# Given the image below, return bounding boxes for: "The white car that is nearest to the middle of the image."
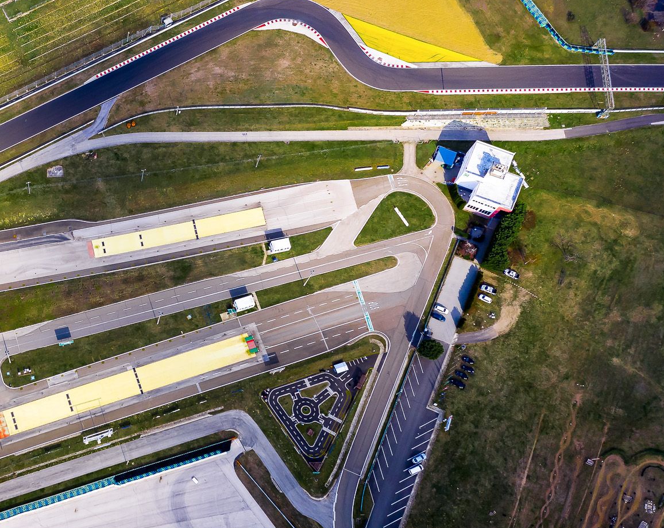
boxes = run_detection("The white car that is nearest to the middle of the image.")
[433,303,449,316]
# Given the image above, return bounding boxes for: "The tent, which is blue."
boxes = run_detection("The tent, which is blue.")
[432,146,457,169]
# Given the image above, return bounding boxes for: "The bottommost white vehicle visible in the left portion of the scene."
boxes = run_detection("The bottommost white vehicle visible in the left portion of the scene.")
[188,474,202,487]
